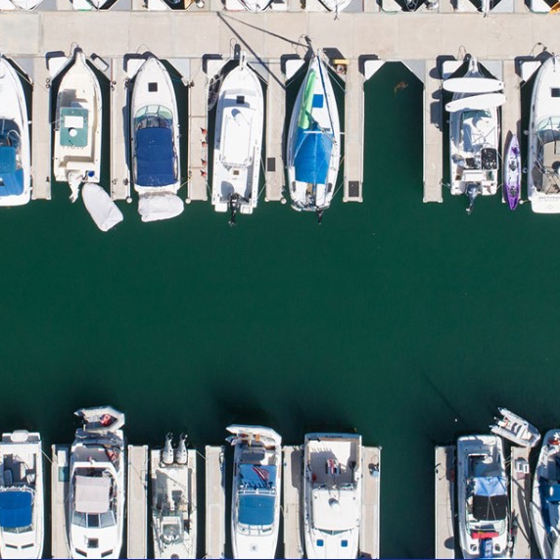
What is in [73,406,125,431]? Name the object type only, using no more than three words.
boat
